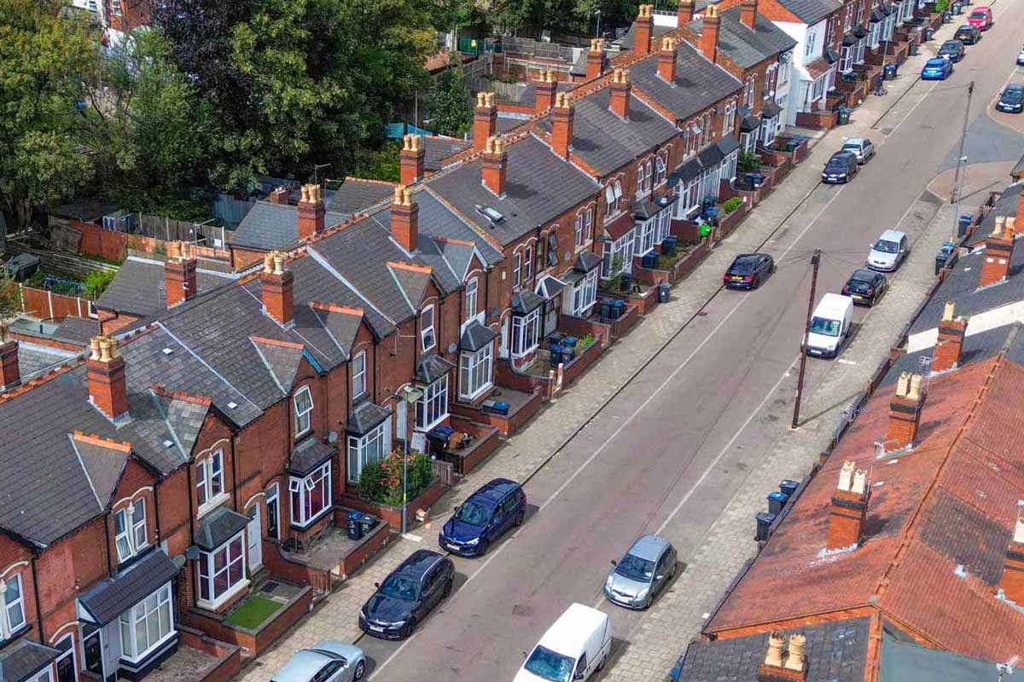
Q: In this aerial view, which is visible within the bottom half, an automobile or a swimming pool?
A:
automobile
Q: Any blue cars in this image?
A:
Yes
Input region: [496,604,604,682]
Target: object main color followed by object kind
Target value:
white van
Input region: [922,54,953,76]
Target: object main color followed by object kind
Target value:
blue car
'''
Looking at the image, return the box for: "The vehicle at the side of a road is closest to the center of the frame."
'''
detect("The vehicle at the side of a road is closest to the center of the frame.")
[451,474,538,552]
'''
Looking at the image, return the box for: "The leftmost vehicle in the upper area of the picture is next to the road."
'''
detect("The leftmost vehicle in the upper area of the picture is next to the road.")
[726,247,779,284]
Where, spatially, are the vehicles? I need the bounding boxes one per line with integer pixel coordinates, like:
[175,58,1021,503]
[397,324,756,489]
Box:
[868,225,913,266]
[451,474,538,552]
[496,604,604,682]
[939,34,969,58]
[998,81,1024,109]
[846,133,881,160]
[843,263,890,300]
[956,20,984,40]
[922,54,953,76]
[365,545,468,636]
[825,146,864,179]
[726,247,779,284]
[606,525,683,600]
[970,4,996,27]
[805,287,860,349]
